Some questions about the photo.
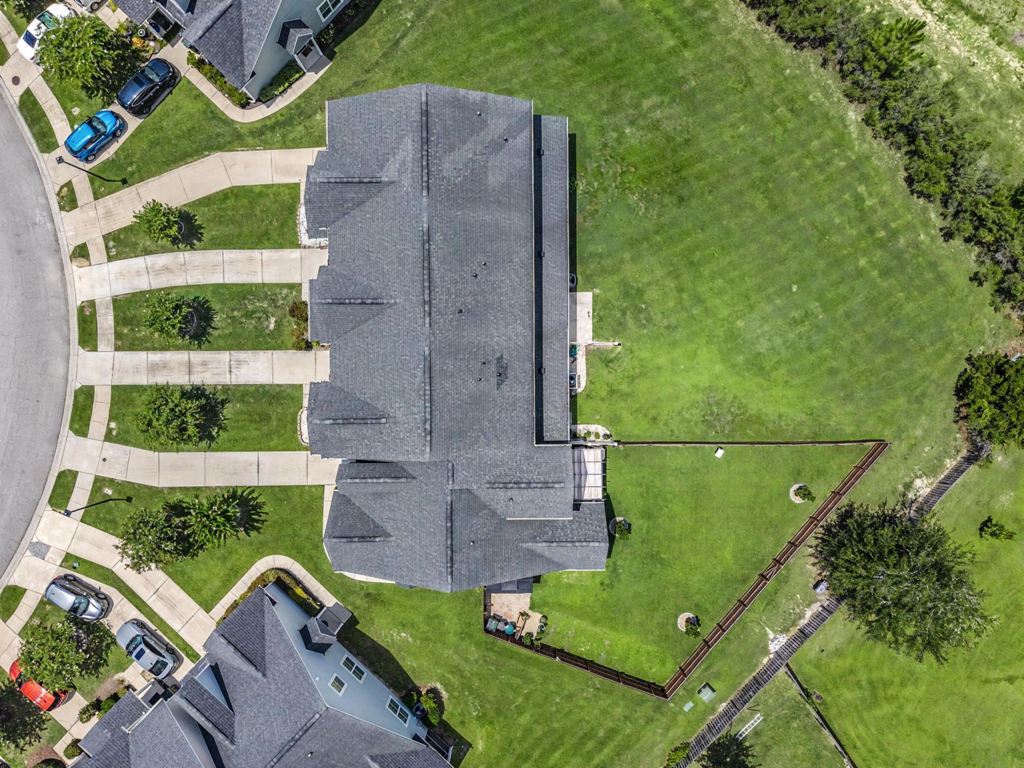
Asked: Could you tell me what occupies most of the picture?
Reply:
grass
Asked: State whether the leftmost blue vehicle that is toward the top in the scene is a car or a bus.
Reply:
car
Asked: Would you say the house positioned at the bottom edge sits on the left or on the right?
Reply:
left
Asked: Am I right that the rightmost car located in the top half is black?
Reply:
Yes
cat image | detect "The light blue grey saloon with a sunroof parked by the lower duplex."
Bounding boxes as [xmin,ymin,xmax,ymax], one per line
[113,620,178,680]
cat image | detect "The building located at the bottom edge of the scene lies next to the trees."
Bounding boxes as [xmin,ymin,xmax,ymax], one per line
[73,582,453,768]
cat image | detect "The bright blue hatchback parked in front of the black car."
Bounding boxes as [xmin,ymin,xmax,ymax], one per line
[62,107,124,162]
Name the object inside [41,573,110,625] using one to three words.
car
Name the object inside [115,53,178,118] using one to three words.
car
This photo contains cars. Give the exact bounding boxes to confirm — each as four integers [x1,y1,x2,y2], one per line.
[115,53,178,118]
[41,573,110,625]
[17,0,81,65]
[68,0,100,13]
[62,107,124,162]
[9,666,72,715]
[113,620,178,680]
